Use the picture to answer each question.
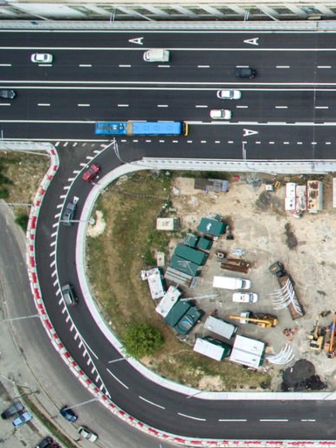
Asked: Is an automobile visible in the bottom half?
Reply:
Yes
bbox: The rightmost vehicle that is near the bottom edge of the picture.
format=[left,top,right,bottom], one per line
[76,426,97,443]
